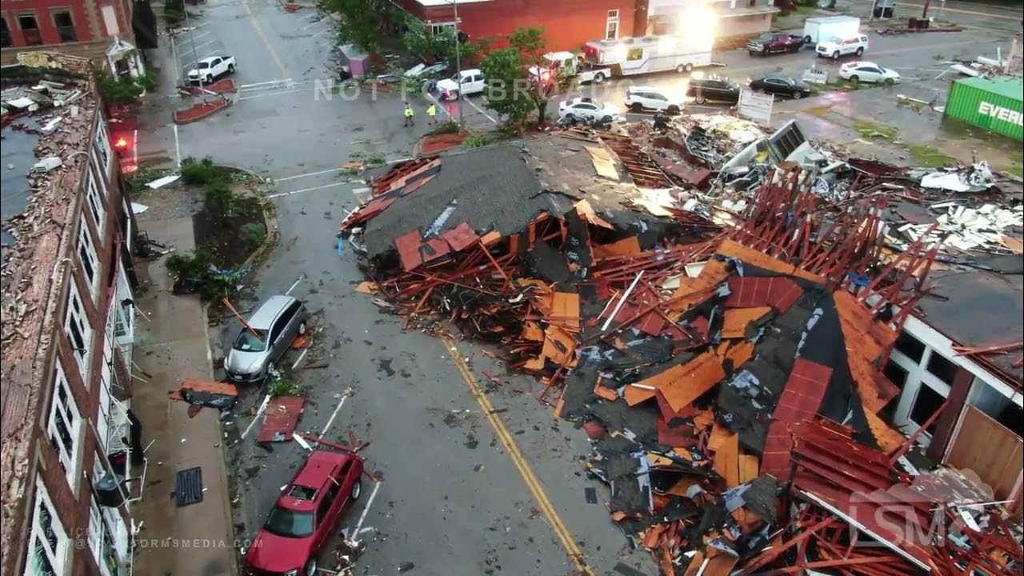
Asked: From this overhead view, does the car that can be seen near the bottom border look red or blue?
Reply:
red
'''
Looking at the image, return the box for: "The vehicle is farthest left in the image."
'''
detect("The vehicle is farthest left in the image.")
[182,54,236,83]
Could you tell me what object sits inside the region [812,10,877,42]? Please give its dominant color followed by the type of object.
white trailer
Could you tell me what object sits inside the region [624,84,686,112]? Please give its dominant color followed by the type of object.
white car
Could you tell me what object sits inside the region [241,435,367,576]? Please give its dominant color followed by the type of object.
red car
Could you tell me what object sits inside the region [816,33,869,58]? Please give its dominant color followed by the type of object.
white car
